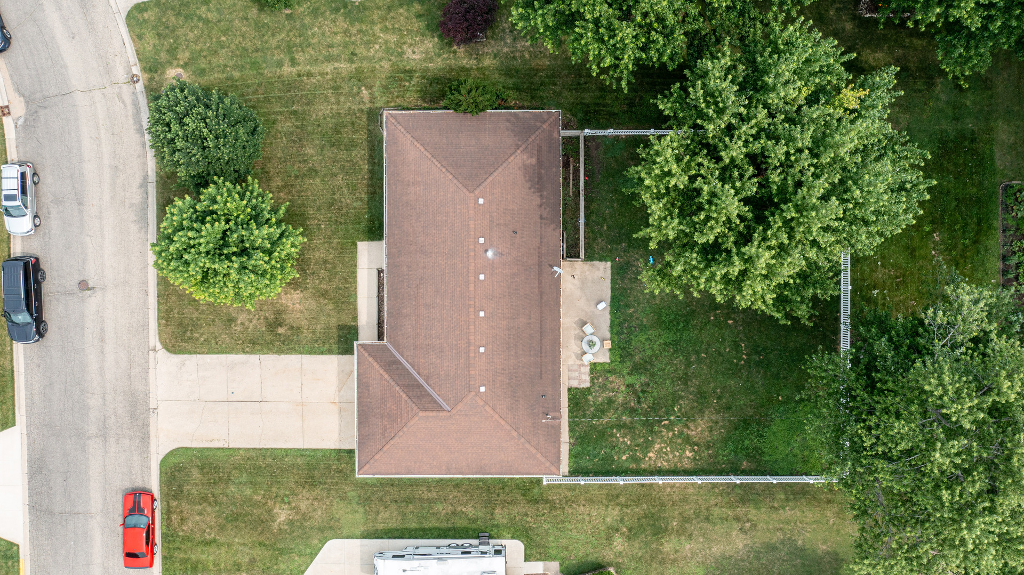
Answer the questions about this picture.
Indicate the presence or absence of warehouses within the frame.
No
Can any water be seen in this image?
No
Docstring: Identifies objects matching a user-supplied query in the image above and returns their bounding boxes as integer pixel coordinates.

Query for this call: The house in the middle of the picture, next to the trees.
[356,111,562,475]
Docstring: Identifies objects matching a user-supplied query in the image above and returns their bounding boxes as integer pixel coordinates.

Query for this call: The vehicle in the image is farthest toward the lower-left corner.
[118,489,159,569]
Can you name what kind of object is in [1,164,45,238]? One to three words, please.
car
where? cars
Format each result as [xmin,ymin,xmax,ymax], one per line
[0,9,12,53]
[2,255,50,344]
[118,489,159,569]
[1,164,45,238]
